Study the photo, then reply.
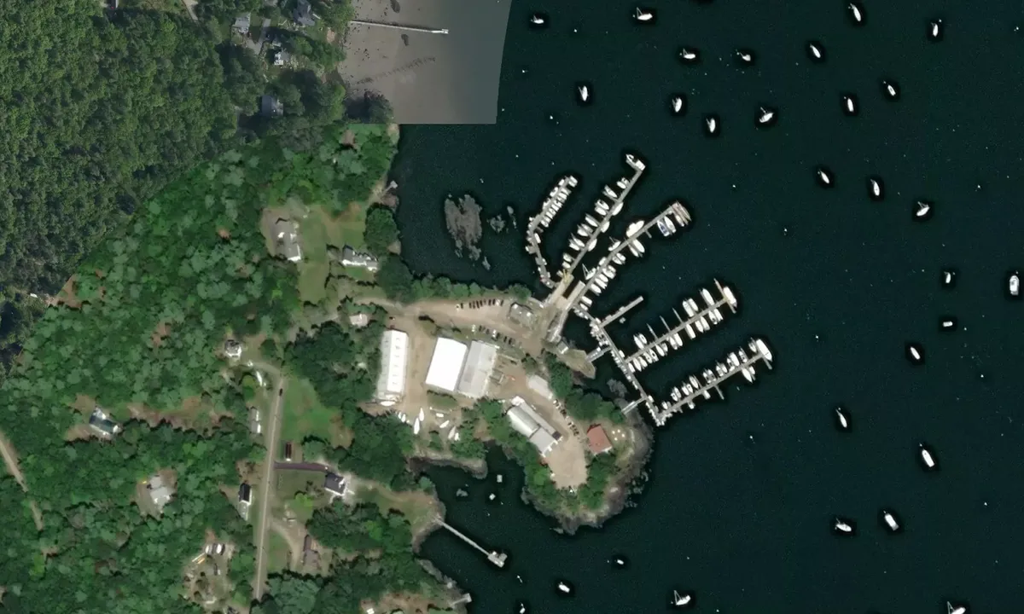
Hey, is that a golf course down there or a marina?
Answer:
marina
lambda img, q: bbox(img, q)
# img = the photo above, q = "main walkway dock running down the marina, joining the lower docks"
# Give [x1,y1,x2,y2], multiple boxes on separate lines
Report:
[573,305,661,425]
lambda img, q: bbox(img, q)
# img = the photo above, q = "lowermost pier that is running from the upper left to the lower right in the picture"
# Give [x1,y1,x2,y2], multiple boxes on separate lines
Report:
[439,519,508,567]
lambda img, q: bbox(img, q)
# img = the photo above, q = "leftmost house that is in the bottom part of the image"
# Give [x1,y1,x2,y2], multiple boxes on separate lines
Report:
[90,408,119,437]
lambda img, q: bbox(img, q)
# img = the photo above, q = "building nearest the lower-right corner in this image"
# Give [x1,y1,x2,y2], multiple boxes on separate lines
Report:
[588,426,612,453]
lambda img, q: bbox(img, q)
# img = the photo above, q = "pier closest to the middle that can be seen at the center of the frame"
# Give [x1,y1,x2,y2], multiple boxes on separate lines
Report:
[547,274,586,313]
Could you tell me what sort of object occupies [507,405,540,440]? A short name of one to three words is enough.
building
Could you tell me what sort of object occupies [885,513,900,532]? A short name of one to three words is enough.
boat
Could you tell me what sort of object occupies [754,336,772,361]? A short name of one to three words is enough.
boat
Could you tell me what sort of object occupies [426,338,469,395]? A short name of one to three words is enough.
shed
